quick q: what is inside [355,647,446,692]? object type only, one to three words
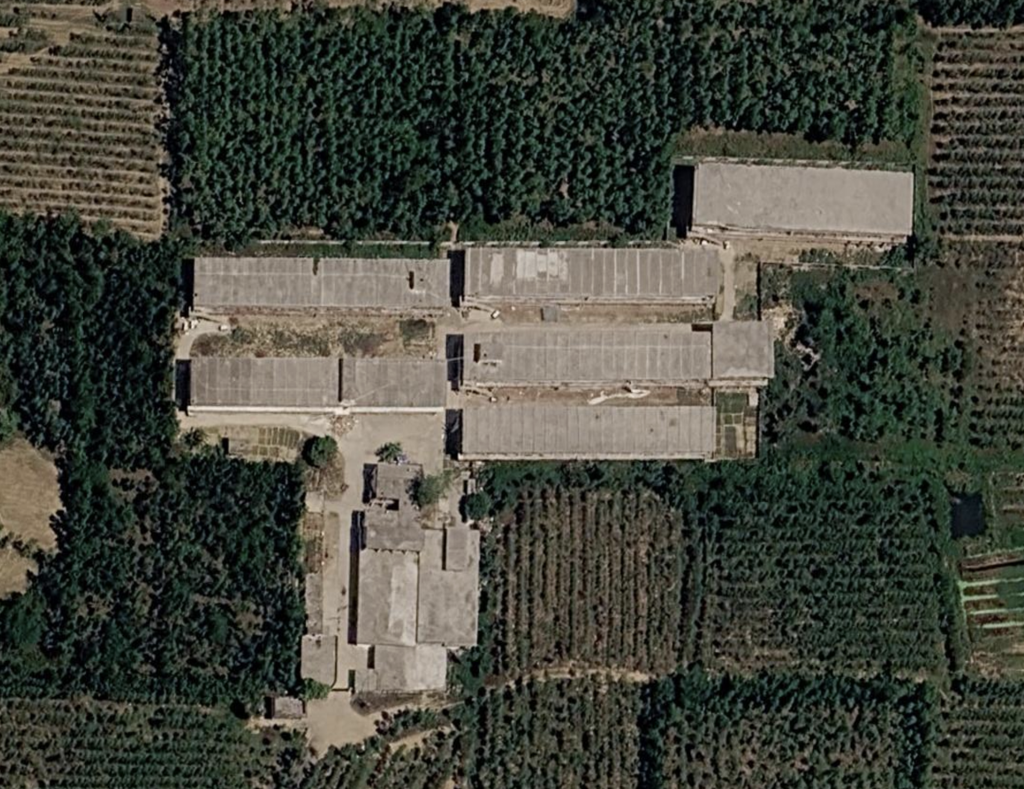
house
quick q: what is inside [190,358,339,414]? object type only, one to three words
shed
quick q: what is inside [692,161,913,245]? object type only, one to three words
shed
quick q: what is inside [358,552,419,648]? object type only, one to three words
building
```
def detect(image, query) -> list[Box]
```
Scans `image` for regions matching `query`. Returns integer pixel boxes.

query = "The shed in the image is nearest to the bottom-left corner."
[274,699,304,722]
